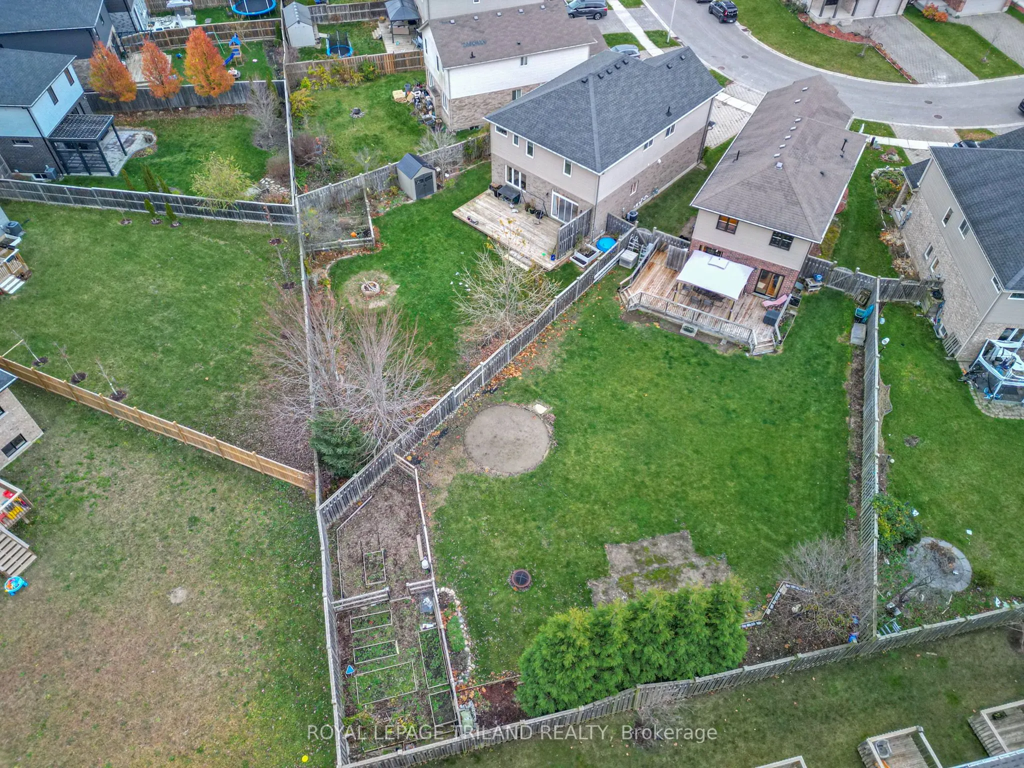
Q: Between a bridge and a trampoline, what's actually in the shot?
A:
trampoline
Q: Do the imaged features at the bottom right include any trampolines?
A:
No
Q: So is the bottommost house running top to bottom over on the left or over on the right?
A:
left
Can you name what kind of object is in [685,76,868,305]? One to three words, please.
house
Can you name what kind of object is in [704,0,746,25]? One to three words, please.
car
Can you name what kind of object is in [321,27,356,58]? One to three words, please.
trampoline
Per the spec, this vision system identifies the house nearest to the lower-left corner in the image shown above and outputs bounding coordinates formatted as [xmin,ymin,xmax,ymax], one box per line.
[0,373,45,471]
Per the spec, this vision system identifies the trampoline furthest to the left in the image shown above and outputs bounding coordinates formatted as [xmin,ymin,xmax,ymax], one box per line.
[228,0,280,21]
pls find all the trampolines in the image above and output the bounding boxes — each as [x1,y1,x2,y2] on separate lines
[321,27,356,58]
[228,0,280,21]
